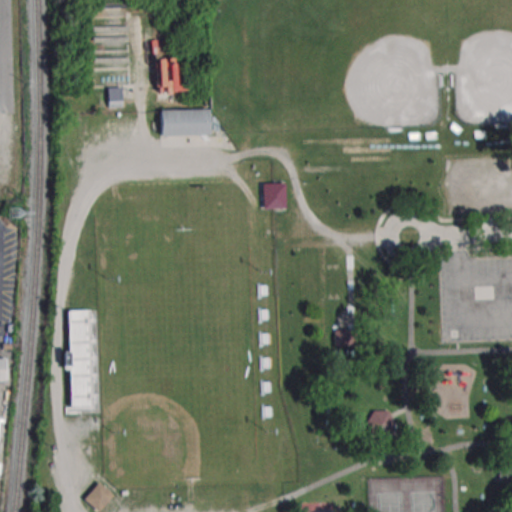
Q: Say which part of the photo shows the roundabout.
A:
right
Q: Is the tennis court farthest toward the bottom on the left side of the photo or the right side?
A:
right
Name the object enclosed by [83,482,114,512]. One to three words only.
building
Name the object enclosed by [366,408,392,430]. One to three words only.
building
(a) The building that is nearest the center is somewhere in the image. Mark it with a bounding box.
[262,184,286,212]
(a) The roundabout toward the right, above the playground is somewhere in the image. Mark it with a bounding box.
[376,204,512,268]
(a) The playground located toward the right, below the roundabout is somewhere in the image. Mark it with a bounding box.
[437,364,476,419]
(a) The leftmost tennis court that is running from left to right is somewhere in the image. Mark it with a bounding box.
[370,478,442,512]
